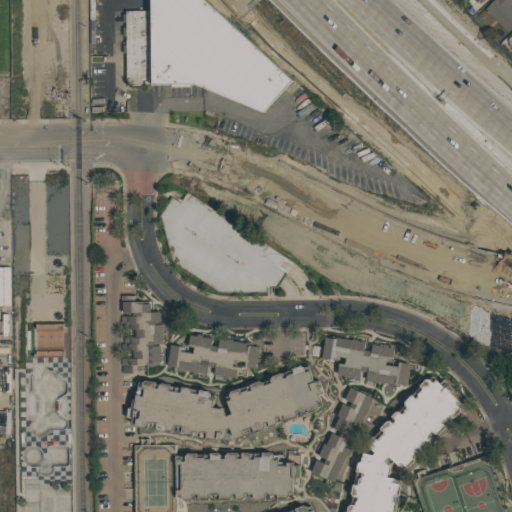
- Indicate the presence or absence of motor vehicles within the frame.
Yes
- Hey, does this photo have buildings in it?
Yes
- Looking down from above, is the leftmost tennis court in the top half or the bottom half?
bottom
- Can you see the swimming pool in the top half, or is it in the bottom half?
bottom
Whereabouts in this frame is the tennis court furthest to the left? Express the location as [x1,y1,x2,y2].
[134,440,177,512]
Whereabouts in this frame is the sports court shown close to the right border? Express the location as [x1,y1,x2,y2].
[418,460,506,512]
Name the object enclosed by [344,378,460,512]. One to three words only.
building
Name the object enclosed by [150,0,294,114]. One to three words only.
warehouse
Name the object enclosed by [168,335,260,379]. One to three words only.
house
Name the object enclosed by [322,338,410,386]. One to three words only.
house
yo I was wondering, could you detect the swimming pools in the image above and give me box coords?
[285,417,314,444]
